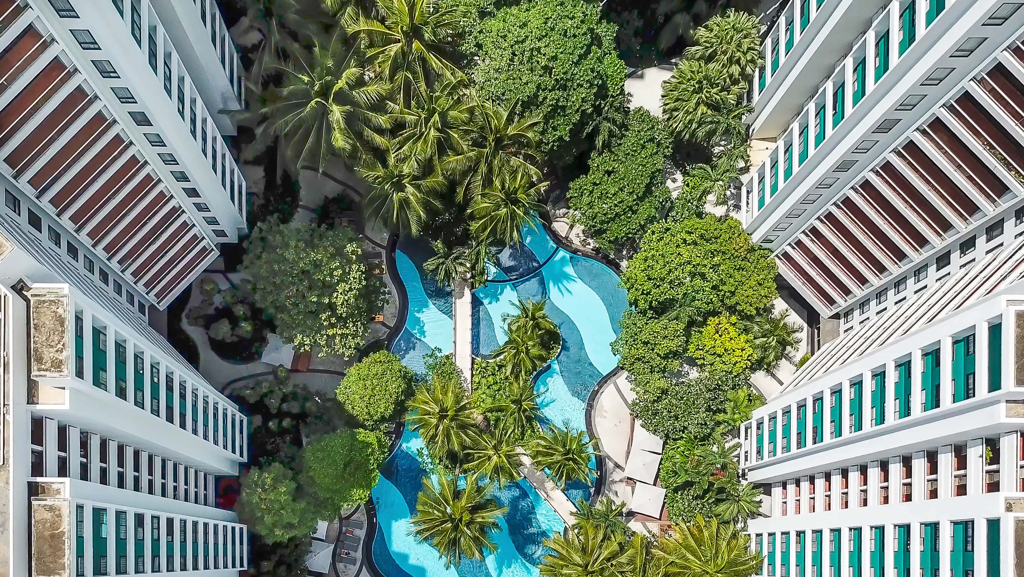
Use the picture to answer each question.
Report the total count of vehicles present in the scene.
0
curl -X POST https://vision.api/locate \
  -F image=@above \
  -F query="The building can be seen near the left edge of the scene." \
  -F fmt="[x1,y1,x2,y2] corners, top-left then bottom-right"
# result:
[0,0,247,577]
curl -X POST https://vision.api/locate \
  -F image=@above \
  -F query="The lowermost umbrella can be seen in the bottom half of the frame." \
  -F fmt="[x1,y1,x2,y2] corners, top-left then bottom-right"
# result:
[304,540,334,574]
